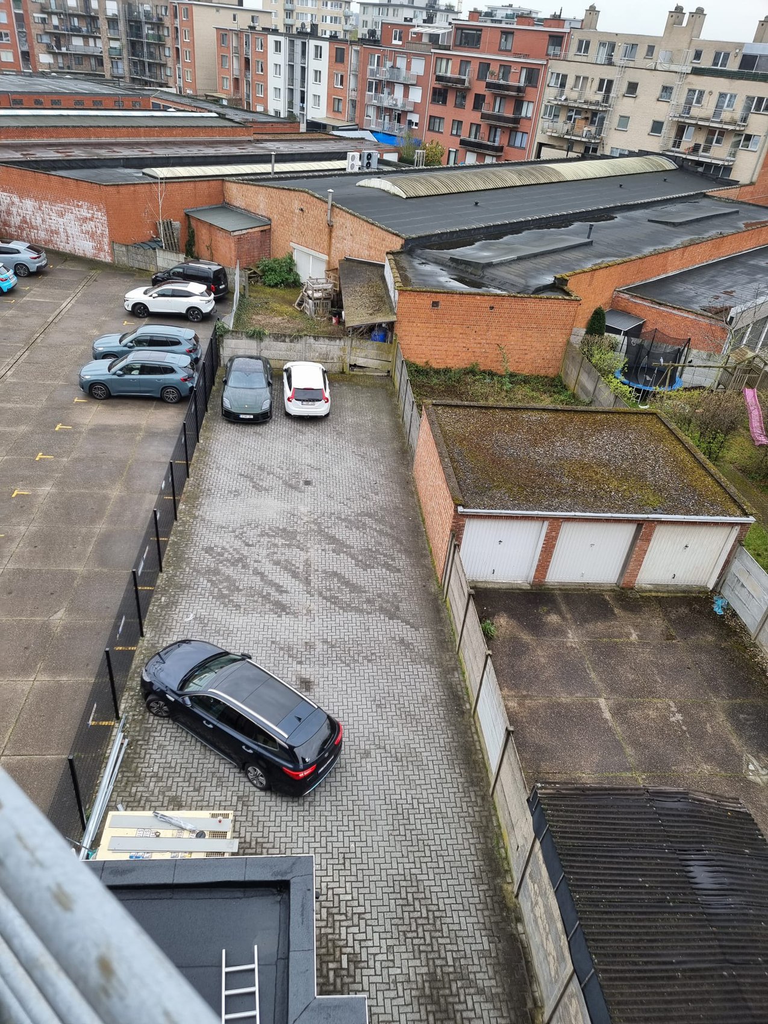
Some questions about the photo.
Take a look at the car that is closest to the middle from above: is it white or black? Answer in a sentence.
The car that is closest to the middle looks white in the image.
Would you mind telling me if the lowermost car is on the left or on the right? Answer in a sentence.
You can find the lowermost car on the left side of the picture.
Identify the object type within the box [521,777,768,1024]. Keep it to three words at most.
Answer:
shed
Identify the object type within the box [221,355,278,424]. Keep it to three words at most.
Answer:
car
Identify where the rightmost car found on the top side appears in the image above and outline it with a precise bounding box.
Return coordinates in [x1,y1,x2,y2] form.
[282,360,334,418]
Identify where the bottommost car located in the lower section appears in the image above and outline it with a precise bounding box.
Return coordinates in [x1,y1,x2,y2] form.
[139,640,347,800]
